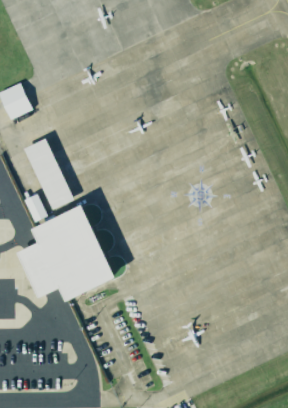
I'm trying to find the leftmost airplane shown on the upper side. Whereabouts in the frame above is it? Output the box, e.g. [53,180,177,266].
[82,66,102,83]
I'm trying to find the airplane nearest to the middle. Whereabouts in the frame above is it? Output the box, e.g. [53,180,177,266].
[128,116,152,134]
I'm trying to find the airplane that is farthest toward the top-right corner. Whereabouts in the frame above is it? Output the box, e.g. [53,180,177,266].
[218,99,232,120]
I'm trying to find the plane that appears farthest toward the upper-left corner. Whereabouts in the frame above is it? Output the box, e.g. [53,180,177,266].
[98,8,113,28]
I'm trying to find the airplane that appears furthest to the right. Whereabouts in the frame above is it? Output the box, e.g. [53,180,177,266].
[252,170,268,191]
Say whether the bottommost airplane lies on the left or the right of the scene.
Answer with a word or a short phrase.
right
